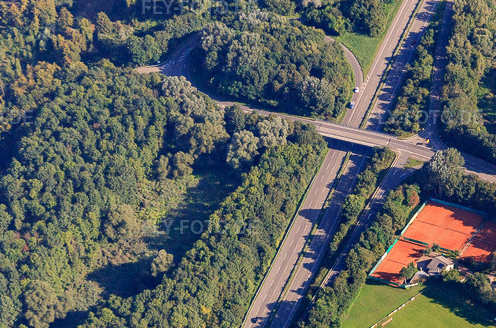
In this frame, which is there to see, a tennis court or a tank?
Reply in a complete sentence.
Visible in the photo is a tennis court.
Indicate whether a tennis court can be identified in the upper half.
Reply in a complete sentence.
No, in the upper half there is no tennis court.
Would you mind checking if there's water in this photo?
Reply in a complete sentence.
No, the scene doesn't show any water.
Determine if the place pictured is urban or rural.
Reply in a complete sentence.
The area is rural.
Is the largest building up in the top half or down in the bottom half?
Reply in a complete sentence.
It is in the bottom half that the largest building appears.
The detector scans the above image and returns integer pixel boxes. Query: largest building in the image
[429,254,454,277]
